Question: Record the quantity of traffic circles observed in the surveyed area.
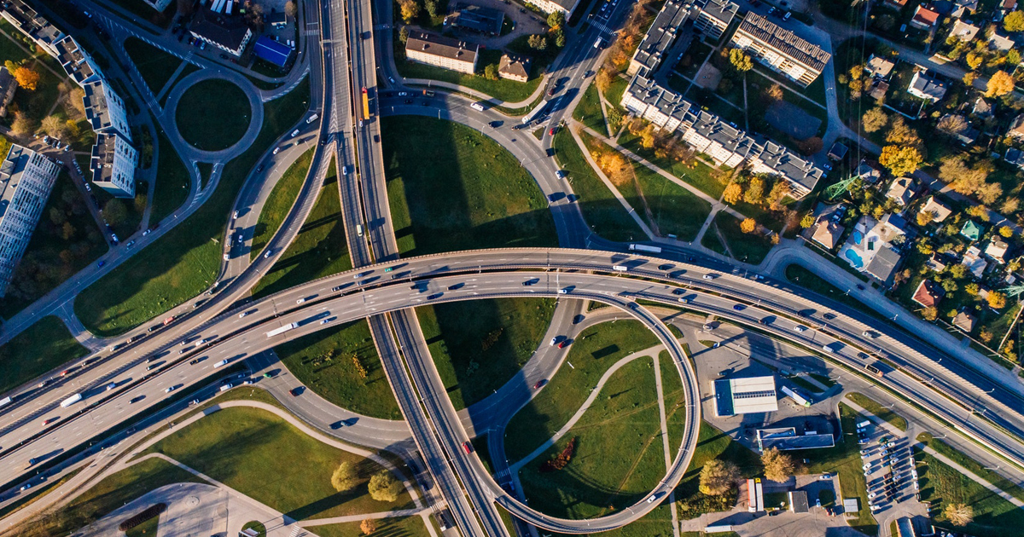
1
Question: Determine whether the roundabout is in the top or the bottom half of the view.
top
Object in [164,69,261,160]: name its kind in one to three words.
roundabout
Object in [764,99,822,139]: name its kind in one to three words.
sports court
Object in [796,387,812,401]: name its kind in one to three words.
vehicle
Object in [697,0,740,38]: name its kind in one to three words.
building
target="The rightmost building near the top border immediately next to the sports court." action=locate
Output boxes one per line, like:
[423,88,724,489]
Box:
[732,10,831,84]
